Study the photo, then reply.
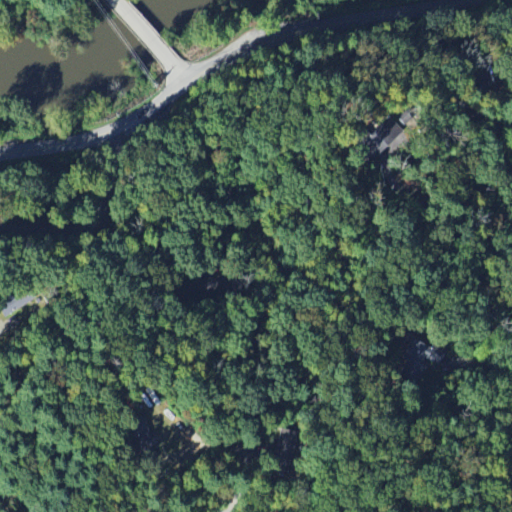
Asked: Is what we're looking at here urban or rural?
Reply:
rural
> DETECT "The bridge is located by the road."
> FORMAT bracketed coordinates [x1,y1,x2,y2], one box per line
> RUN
[106,0,184,68]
